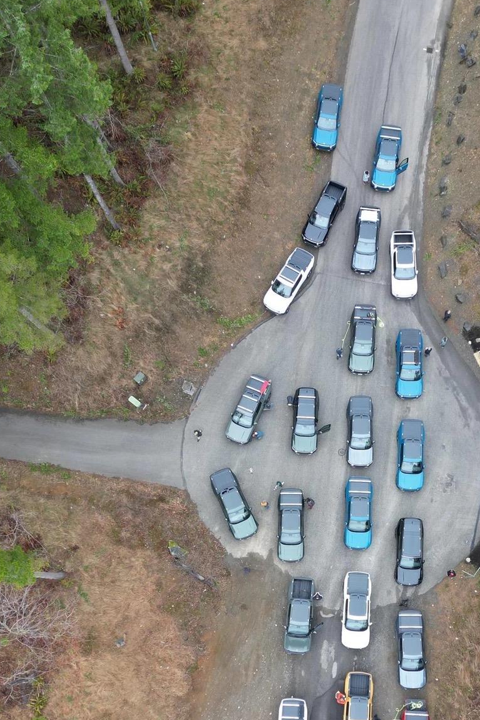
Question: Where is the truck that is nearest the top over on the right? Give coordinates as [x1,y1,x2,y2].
[313,85,342,150]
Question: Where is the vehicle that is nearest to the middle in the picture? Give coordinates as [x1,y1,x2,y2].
[227,373,270,447]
